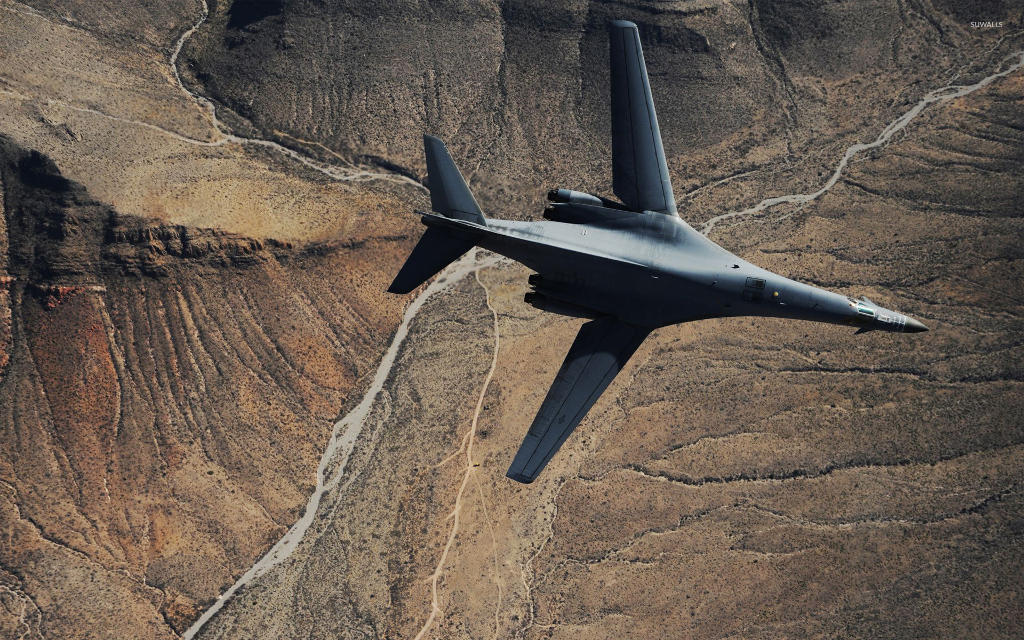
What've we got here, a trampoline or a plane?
plane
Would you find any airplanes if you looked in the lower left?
No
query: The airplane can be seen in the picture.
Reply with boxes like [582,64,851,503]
[390,24,929,482]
